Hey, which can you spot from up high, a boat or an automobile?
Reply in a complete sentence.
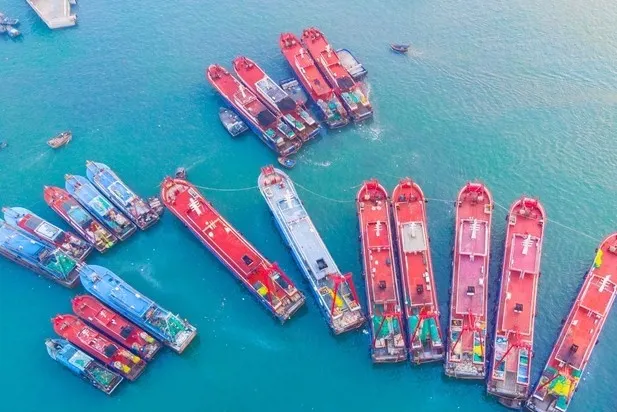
It is a boat that can be seen here.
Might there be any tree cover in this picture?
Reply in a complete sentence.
No, the scene doesn't show any tree cover.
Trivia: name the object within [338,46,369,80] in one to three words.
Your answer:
boat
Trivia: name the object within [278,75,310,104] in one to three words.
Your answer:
boat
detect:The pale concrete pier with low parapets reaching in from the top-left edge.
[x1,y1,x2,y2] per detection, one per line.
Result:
[25,0,81,31]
